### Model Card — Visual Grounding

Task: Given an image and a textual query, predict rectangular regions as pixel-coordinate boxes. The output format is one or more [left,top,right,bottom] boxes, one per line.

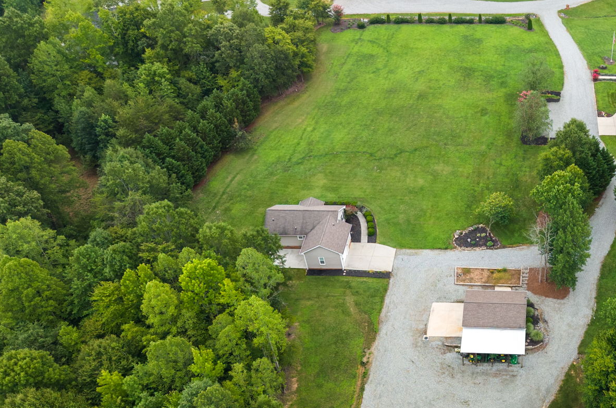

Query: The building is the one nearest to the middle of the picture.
[266,195,351,269]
